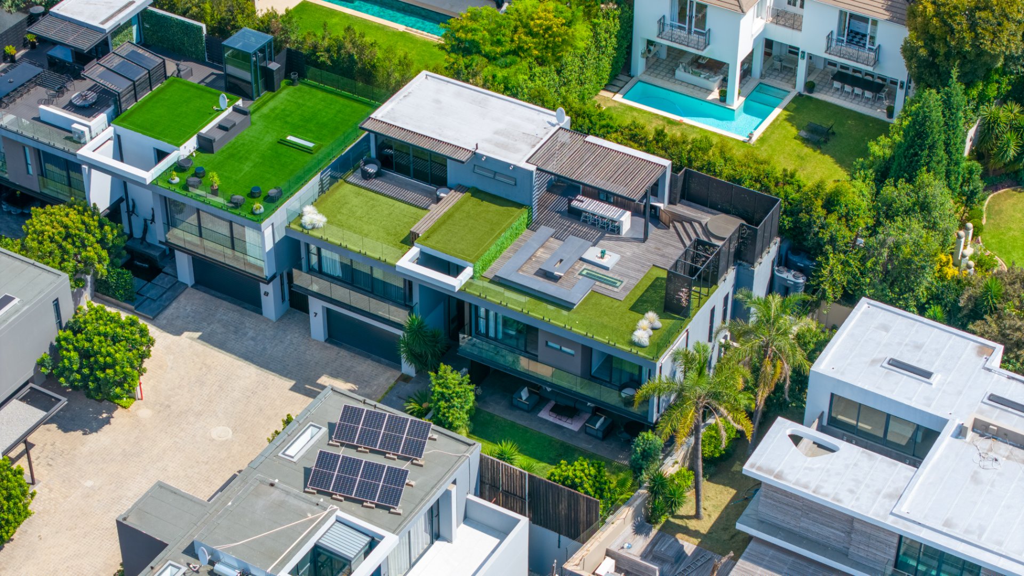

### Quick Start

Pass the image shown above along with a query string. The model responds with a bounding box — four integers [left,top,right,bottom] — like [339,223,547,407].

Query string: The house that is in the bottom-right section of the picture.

[729,299,1024,576]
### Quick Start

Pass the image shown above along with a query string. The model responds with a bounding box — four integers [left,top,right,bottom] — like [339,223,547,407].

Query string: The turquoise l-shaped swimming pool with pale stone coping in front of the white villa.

[611,77,798,144]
